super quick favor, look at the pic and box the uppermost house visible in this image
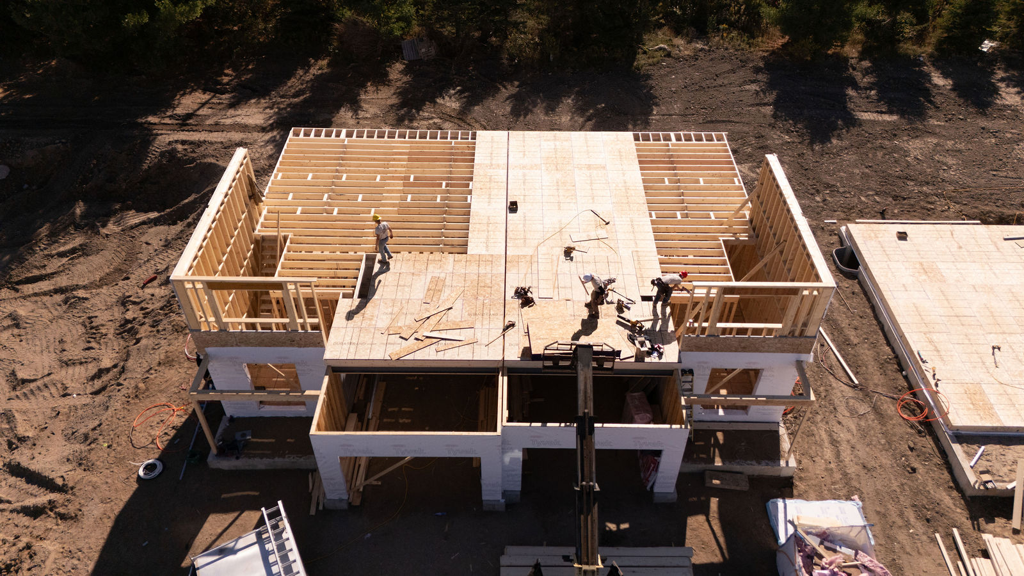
[174,128,834,501]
